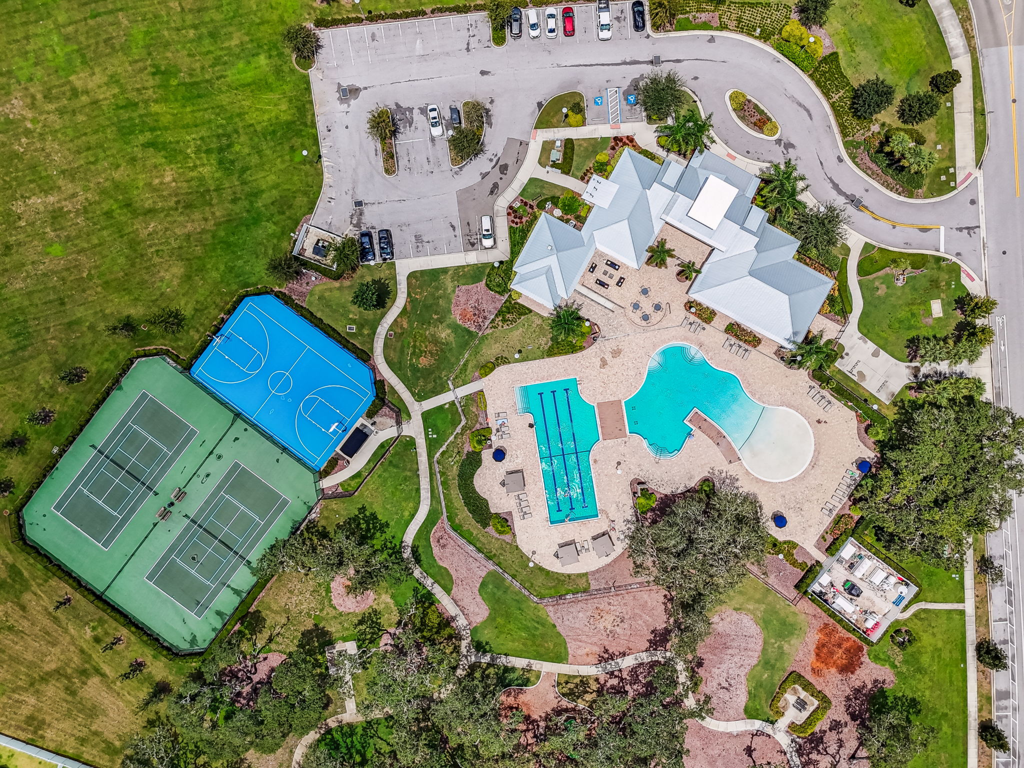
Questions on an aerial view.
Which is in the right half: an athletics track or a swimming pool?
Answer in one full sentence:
What appears in the right half is a swimming pool.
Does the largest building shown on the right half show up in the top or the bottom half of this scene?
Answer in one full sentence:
It is in the top half that the largest building shown on the right half appears.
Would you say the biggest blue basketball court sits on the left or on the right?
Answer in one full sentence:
The biggest blue basketball court sits on the left side.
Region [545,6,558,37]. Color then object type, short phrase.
white vehicle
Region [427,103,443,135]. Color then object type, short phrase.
white car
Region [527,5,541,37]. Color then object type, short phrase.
white car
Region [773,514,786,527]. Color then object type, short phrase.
blue umbrella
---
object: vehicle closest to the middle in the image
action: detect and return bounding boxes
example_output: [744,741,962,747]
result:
[481,215,495,246]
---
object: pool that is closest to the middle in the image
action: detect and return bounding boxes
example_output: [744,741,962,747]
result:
[512,376,602,527]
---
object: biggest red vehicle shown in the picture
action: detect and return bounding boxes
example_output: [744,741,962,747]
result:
[562,5,575,35]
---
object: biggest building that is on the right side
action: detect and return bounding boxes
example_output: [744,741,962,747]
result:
[511,147,834,349]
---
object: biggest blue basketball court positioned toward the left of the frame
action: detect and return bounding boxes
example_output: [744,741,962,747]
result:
[189,295,373,471]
